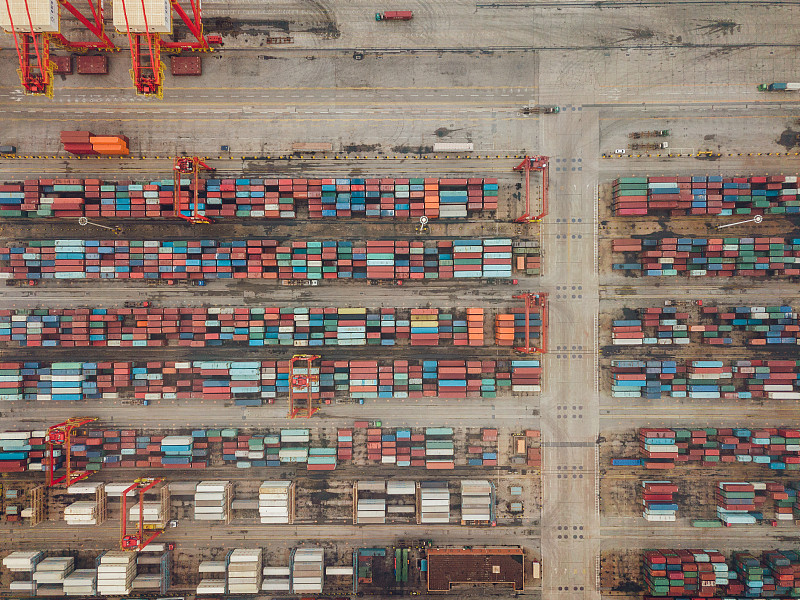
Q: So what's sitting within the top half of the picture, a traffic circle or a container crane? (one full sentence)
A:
Looking within the top half of the picture, you will find a container crane.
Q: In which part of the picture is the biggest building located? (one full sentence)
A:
The biggest building sits in the bottom section of the image.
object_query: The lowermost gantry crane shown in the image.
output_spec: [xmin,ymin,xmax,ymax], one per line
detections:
[121,477,166,555]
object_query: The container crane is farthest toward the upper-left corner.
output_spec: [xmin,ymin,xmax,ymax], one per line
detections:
[0,0,127,108]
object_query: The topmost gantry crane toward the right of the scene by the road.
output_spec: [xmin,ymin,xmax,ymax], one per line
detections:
[512,153,548,224]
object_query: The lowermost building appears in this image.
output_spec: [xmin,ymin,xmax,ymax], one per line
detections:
[427,549,524,591]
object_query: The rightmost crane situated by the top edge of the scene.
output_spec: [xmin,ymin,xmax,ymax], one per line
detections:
[113,0,221,108]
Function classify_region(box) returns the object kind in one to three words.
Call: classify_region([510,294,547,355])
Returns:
container crane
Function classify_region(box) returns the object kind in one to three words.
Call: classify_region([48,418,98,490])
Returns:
container crane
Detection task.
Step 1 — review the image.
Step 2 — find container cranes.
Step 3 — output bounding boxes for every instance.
[512,153,548,224]
[288,353,321,421]
[510,294,547,355]
[0,0,127,108]
[176,154,216,224]
[113,0,221,108]
[48,418,98,490]
[121,477,166,555]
